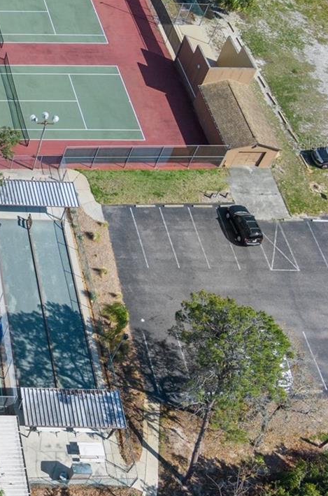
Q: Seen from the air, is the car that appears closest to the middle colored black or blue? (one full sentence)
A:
The car that appears closest to the middle is black.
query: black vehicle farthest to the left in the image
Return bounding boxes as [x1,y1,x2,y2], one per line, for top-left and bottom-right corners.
[226,204,269,249]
